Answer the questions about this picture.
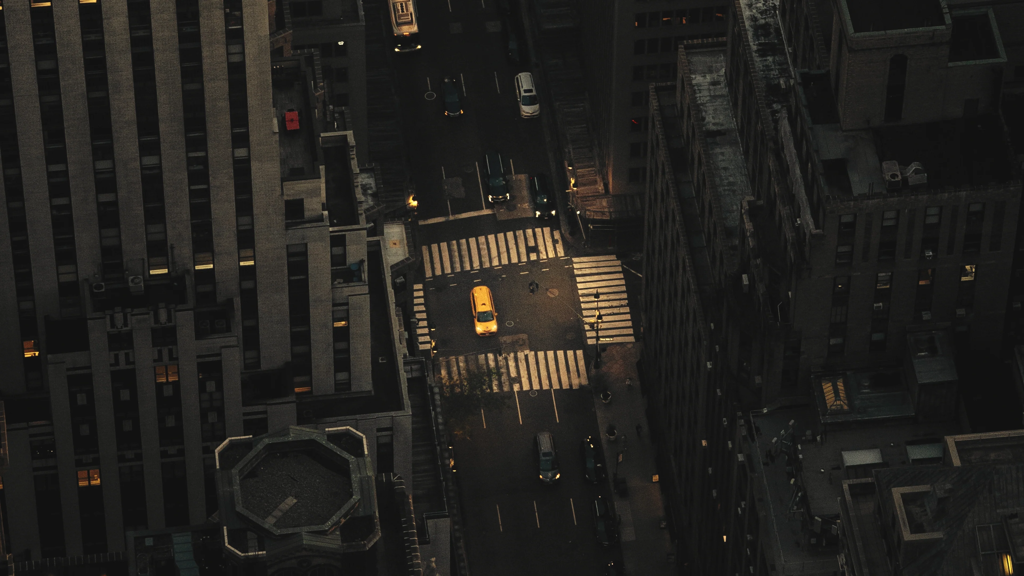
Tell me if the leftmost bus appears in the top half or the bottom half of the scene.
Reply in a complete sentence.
Seen from above, the leftmost bus lies in the top half of the view.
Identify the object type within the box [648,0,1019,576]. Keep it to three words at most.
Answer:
building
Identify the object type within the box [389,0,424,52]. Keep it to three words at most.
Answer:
bus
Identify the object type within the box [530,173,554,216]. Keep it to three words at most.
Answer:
car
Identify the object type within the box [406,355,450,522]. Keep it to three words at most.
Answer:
shed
